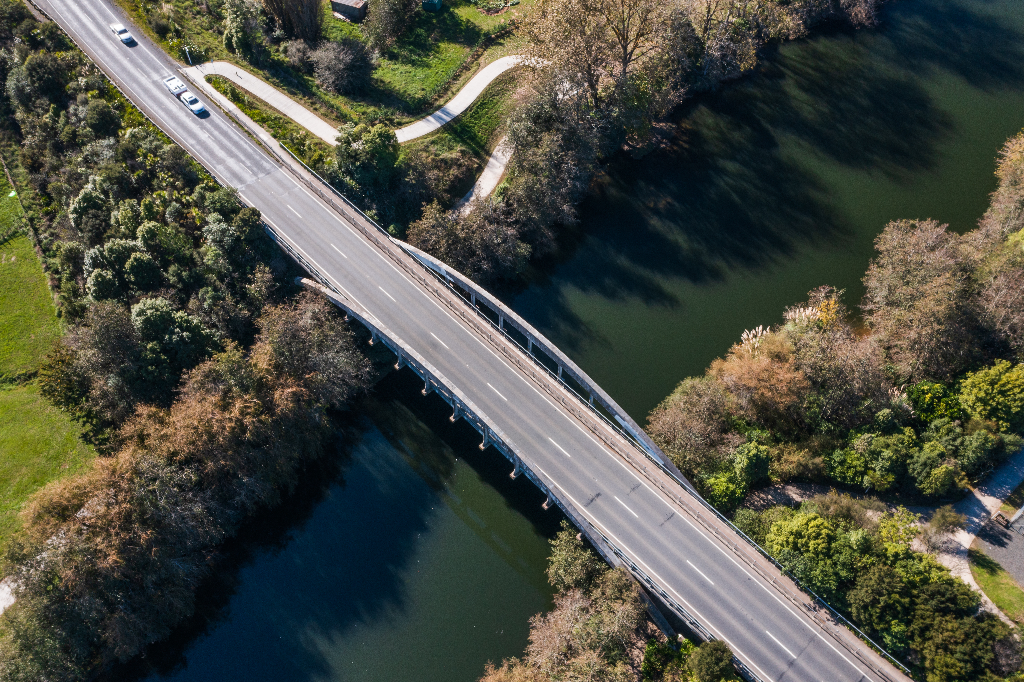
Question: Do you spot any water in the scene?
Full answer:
Yes, the picture does contain water.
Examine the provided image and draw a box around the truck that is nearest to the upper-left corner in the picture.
[107,22,133,45]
